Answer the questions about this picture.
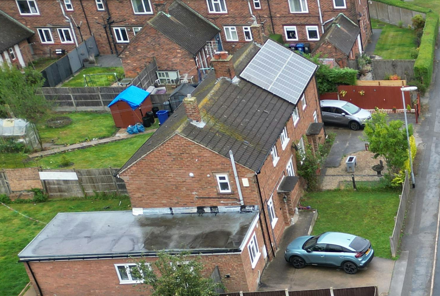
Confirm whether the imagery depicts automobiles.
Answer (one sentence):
Yes, the frame does contain an automobile.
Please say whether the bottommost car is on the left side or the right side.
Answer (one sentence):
The bottommost car appears in the right half of the scene.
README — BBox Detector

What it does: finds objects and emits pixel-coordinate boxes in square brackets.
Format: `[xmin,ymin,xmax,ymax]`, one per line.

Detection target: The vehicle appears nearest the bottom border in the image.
[284,226,378,272]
